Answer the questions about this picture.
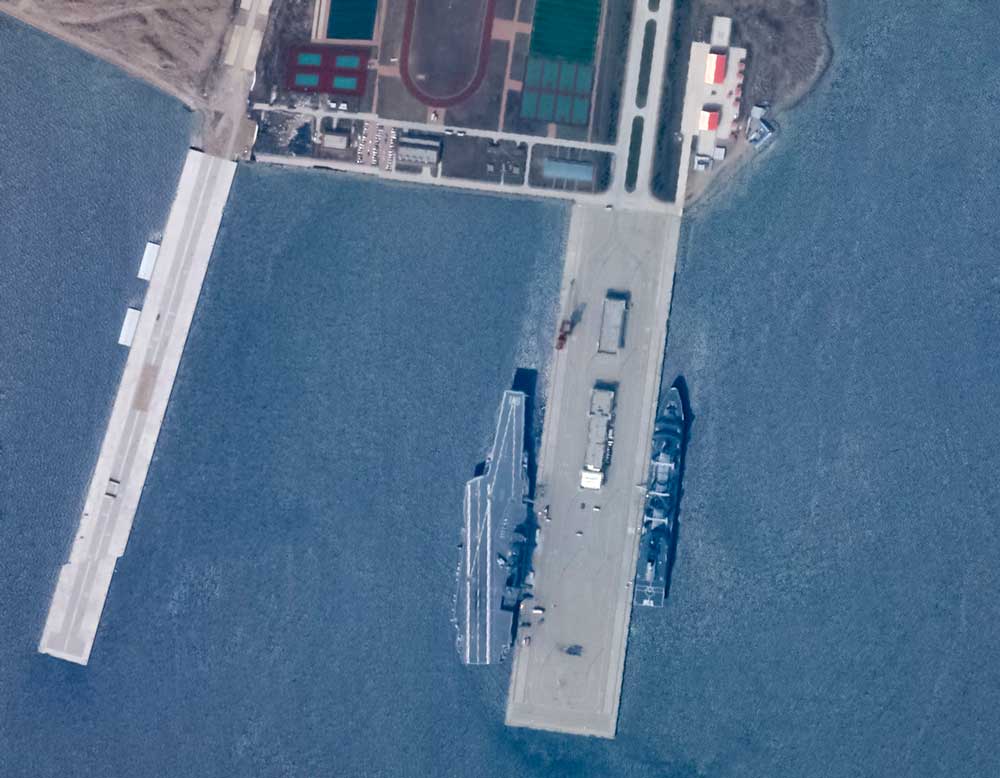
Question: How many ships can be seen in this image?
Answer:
two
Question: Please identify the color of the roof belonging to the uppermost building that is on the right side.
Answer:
white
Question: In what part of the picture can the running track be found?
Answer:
top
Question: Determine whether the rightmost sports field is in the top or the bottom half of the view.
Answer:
top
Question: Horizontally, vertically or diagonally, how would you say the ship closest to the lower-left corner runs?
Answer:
vertically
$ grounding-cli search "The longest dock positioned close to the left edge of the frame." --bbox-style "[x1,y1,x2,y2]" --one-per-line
[40,147,237,666]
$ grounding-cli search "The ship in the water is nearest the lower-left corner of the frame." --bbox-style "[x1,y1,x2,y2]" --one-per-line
[451,391,529,664]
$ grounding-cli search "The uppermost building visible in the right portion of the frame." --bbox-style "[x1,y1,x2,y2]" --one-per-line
[711,16,731,47]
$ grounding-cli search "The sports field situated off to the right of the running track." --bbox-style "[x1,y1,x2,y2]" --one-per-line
[529,0,603,62]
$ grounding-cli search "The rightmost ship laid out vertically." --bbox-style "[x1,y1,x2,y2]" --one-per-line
[634,387,683,608]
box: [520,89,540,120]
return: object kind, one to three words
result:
sports court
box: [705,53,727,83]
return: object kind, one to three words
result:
shed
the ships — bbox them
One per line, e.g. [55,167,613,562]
[451,391,529,664]
[634,387,683,608]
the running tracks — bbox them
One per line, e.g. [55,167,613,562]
[401,0,495,107]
